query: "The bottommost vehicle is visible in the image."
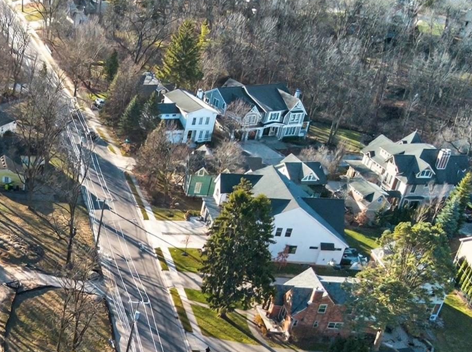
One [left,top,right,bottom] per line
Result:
[85,127,101,142]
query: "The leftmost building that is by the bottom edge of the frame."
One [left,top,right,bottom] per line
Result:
[259,267,380,344]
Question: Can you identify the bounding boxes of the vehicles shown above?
[85,127,101,142]
[86,94,111,106]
